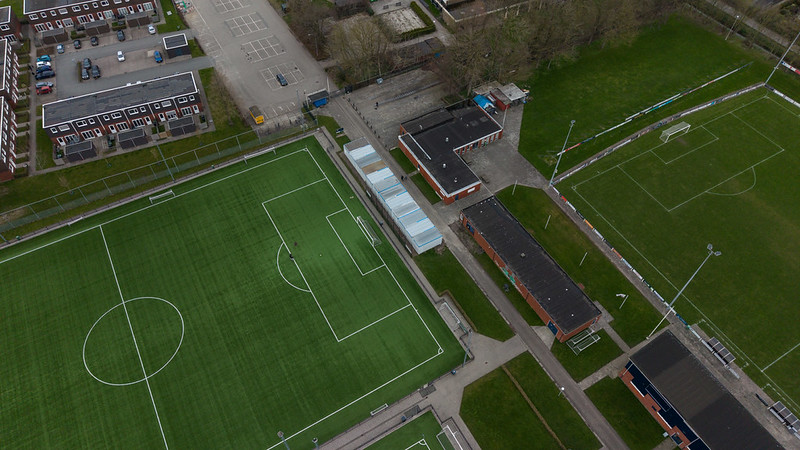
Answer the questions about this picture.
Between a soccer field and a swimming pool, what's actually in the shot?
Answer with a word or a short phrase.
soccer field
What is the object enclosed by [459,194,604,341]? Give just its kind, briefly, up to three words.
building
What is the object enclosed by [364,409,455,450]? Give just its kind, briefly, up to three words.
soccer field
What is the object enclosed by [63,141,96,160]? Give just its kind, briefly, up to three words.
shed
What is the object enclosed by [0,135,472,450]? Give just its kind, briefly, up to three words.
soccer field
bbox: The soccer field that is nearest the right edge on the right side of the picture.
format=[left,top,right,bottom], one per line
[552,84,800,412]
